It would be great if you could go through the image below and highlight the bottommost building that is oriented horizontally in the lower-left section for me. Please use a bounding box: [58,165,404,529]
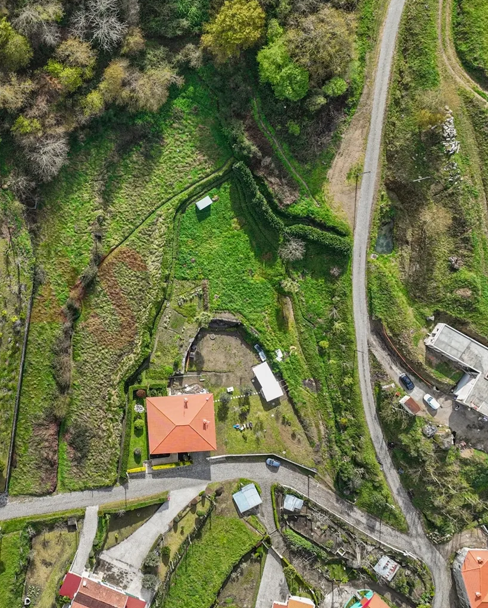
[59,569,146,608]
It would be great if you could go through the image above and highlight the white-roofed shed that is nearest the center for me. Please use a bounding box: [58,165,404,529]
[251,362,287,401]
